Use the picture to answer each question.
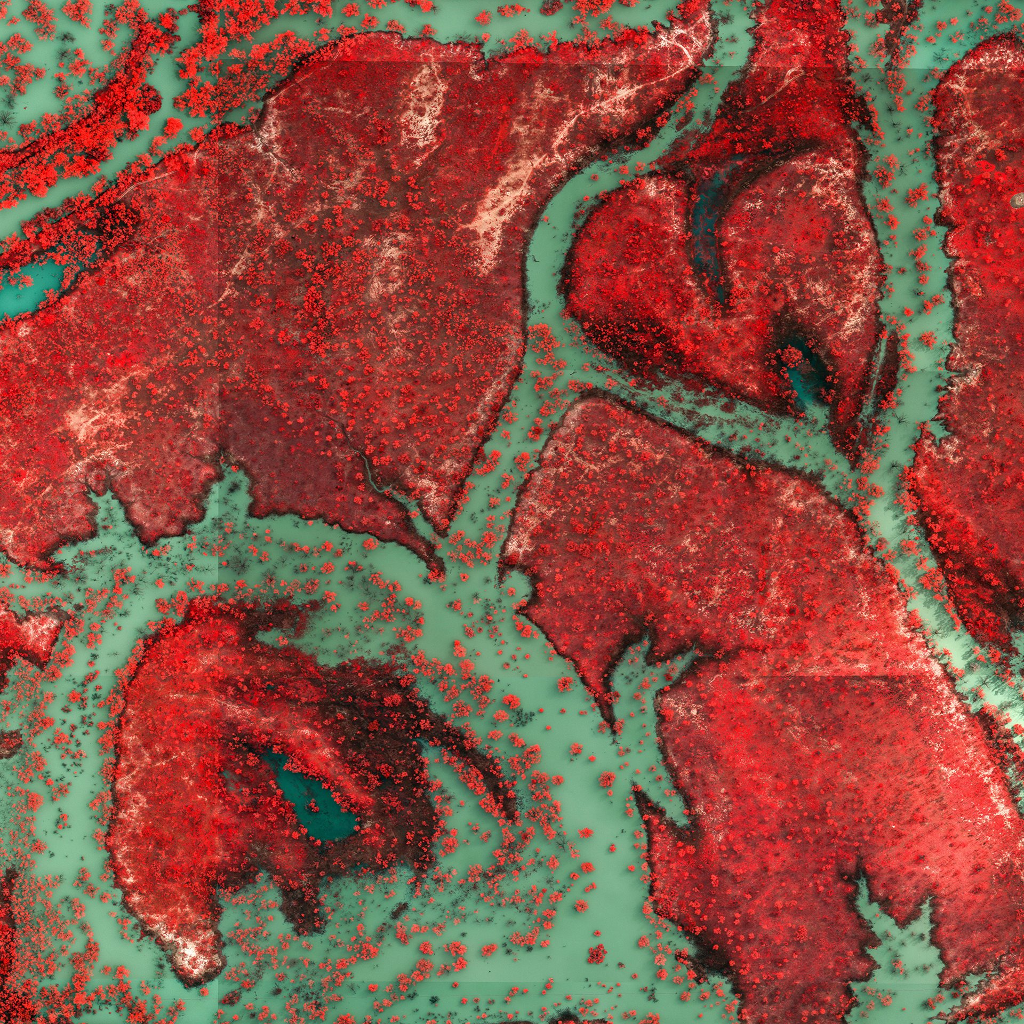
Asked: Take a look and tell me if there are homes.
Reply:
No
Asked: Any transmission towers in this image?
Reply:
No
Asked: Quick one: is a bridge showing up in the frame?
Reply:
No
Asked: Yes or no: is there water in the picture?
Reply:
Yes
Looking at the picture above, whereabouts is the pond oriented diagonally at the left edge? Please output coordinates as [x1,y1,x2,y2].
[0,227,108,321]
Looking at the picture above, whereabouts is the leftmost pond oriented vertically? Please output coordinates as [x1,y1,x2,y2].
[697,156,738,301]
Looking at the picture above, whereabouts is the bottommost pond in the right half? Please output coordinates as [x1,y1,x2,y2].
[783,333,831,414]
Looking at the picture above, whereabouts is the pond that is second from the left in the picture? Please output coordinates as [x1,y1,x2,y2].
[263,748,359,843]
